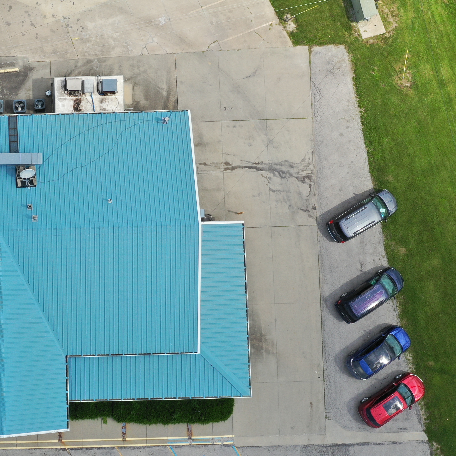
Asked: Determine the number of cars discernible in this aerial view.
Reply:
4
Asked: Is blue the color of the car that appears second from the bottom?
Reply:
Yes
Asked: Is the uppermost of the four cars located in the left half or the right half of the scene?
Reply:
right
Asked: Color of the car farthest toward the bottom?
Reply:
red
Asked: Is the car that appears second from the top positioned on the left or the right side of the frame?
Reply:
right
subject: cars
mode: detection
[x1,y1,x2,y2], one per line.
[326,191,397,245]
[334,269,405,325]
[356,376,424,431]
[345,326,411,382]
